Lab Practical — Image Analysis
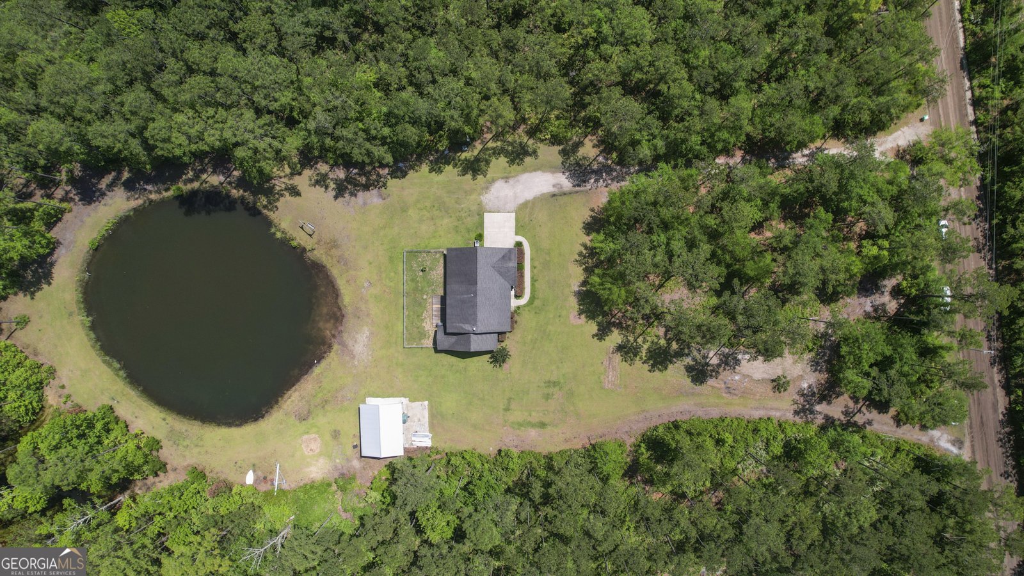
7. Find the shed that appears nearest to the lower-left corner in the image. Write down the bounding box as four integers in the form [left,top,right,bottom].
[360,403,404,457]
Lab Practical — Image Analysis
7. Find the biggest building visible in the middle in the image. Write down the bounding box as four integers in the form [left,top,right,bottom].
[437,246,517,351]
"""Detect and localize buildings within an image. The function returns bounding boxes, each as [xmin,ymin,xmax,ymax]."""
[437,246,517,351]
[360,403,404,457]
